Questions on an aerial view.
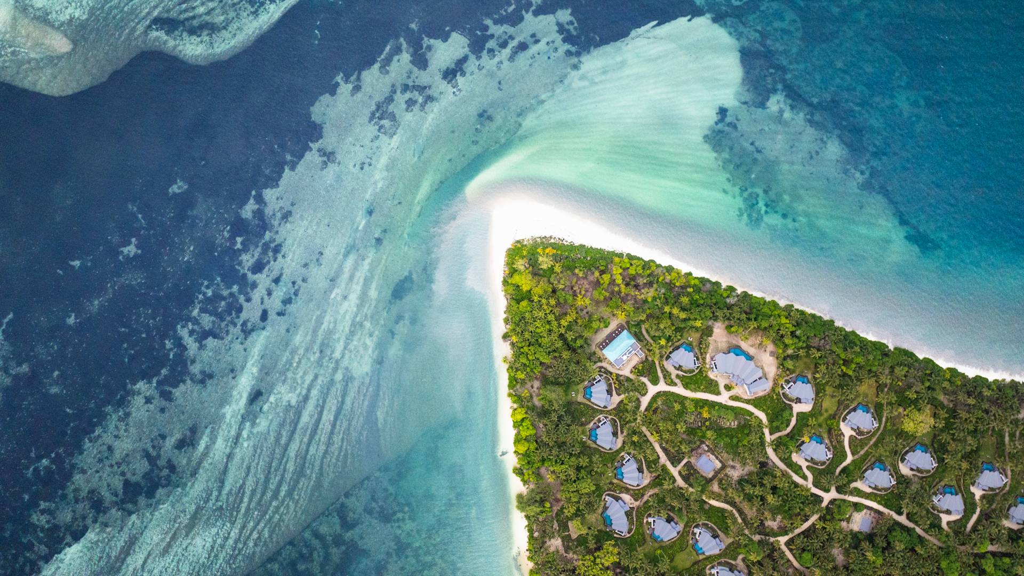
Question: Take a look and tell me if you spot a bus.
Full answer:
No, I can see no bus in this picture.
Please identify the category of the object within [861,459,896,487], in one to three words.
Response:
house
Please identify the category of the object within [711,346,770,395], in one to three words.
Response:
building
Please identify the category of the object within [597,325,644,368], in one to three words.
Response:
building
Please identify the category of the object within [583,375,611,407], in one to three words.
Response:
house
